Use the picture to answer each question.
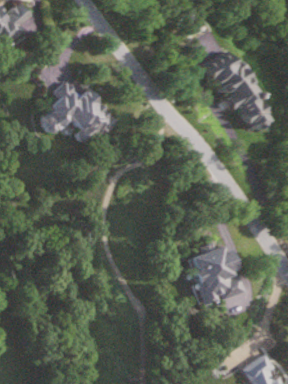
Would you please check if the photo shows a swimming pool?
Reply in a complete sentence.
No, no swimming pool is visible in the scene.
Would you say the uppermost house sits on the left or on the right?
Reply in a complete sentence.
The uppermost house appears in the left half of the scene.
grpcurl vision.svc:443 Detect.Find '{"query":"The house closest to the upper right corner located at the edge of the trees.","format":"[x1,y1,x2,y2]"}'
[204,50,276,133]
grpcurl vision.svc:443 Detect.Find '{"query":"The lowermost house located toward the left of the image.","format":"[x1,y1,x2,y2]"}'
[40,80,110,143]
